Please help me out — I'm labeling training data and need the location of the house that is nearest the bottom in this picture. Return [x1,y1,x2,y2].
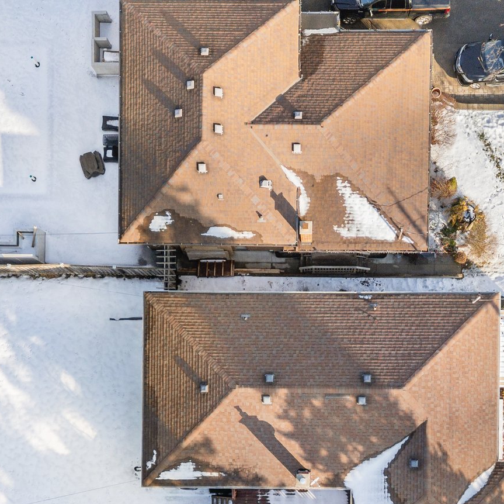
[140,289,504,504]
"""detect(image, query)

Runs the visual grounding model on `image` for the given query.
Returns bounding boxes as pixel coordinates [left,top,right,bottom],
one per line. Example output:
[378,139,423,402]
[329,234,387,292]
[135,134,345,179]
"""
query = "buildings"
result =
[116,0,434,255]
[140,289,504,504]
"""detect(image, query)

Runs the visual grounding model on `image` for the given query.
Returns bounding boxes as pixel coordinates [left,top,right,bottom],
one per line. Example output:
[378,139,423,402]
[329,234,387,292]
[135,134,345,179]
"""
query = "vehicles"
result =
[329,0,450,24]
[453,33,504,88]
